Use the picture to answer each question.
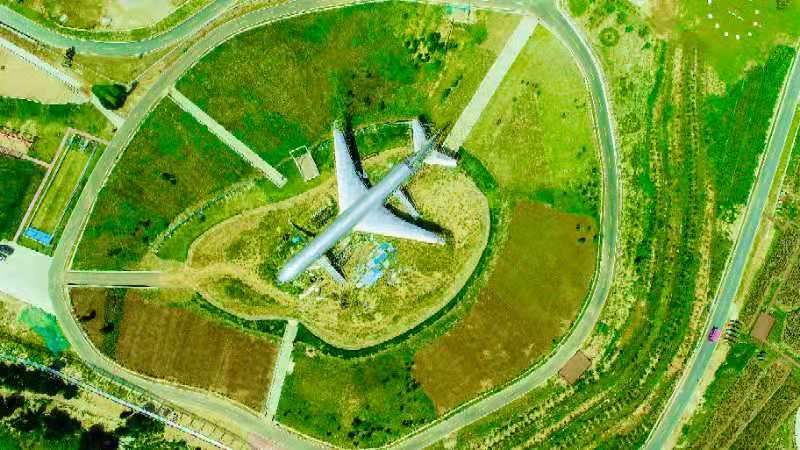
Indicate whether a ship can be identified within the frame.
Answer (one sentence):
No, I find no ship anywhere in the image.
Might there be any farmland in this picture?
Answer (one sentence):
Yes, the picture does contain farmland.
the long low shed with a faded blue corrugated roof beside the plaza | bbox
[20,227,52,246]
